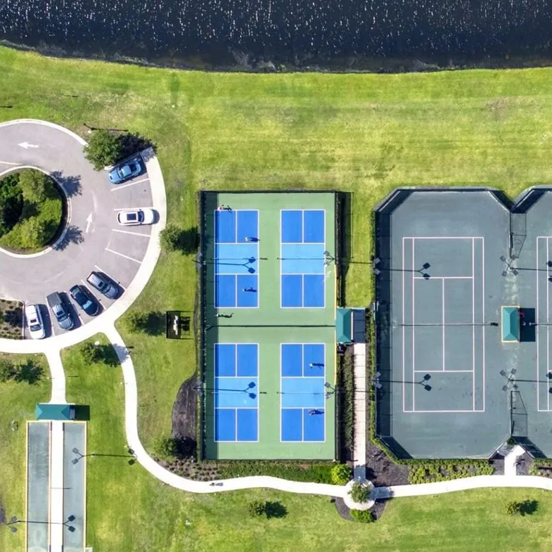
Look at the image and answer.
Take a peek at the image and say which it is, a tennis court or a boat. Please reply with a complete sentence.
I can see a tennis court in this picture.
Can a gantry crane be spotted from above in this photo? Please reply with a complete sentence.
No, I find no gantry crane anywhere in the image.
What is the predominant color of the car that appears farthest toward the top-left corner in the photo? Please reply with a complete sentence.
The car that appears farthest toward the top-left corner looks blue in the image.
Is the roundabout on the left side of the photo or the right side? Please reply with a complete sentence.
You can find the roundabout on the left side of the picture.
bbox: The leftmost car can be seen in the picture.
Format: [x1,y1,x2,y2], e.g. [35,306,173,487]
[22,303,44,341]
